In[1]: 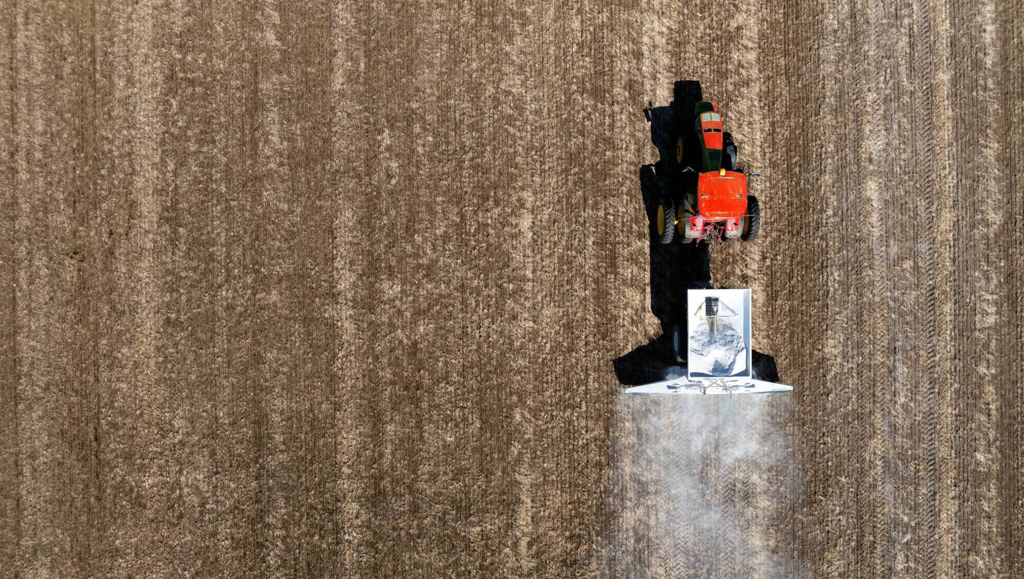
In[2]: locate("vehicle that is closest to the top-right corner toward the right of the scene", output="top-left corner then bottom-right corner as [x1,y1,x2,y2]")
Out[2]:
[656,101,761,253]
